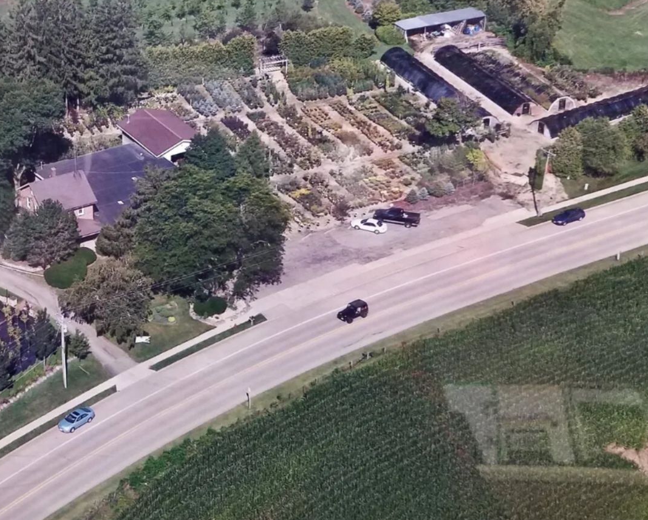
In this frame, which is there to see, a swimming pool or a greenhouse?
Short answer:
greenhouse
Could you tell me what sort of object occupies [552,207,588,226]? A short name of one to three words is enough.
car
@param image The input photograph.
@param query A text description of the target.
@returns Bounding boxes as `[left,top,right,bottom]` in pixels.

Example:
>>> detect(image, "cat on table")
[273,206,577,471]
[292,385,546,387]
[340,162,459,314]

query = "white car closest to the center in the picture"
[351,217,388,234]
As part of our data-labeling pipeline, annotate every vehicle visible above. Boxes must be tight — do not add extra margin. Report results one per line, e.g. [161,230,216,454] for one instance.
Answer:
[372,206,420,229]
[56,404,98,434]
[336,297,370,324]
[552,207,588,226]
[351,217,388,234]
